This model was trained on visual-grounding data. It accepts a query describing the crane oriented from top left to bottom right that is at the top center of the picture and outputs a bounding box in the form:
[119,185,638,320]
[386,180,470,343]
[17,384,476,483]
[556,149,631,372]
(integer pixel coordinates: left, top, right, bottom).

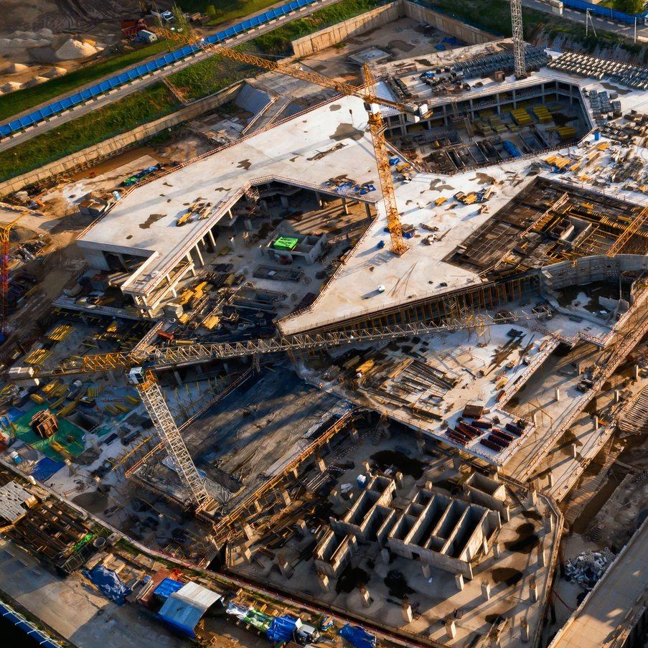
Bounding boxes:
[156,26,422,258]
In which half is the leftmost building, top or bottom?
bottom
